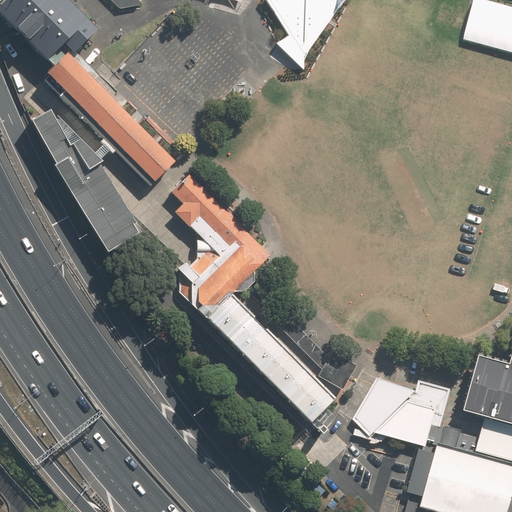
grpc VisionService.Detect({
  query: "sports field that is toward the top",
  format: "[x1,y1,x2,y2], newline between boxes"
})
[214,0,512,345]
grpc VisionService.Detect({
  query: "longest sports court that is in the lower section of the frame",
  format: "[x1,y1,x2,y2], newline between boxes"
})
[262,312,330,374]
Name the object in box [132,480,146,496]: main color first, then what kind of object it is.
white car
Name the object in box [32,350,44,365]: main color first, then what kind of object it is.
white vehicle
